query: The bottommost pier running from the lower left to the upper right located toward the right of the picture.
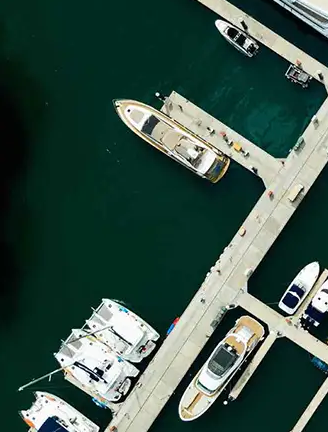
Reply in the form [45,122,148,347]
[289,374,328,432]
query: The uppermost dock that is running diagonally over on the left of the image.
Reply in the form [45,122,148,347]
[64,371,121,412]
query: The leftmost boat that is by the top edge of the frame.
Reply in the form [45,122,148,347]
[216,21,259,58]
